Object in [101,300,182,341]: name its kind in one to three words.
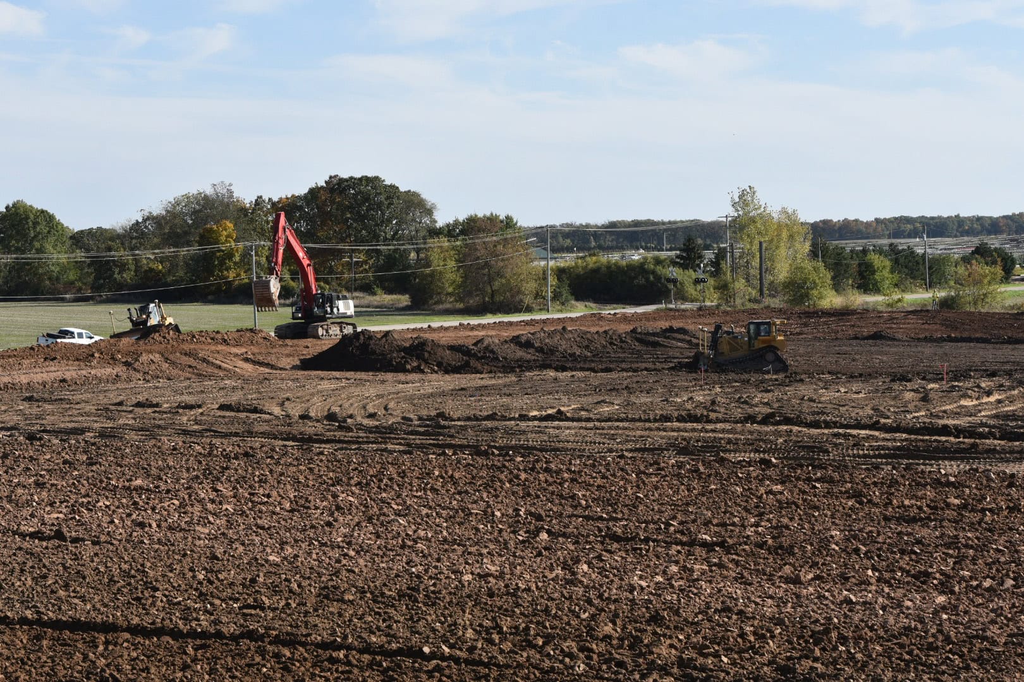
work vehicle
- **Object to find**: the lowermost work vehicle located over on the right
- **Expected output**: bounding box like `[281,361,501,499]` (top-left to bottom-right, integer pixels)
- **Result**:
[694,320,792,371]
